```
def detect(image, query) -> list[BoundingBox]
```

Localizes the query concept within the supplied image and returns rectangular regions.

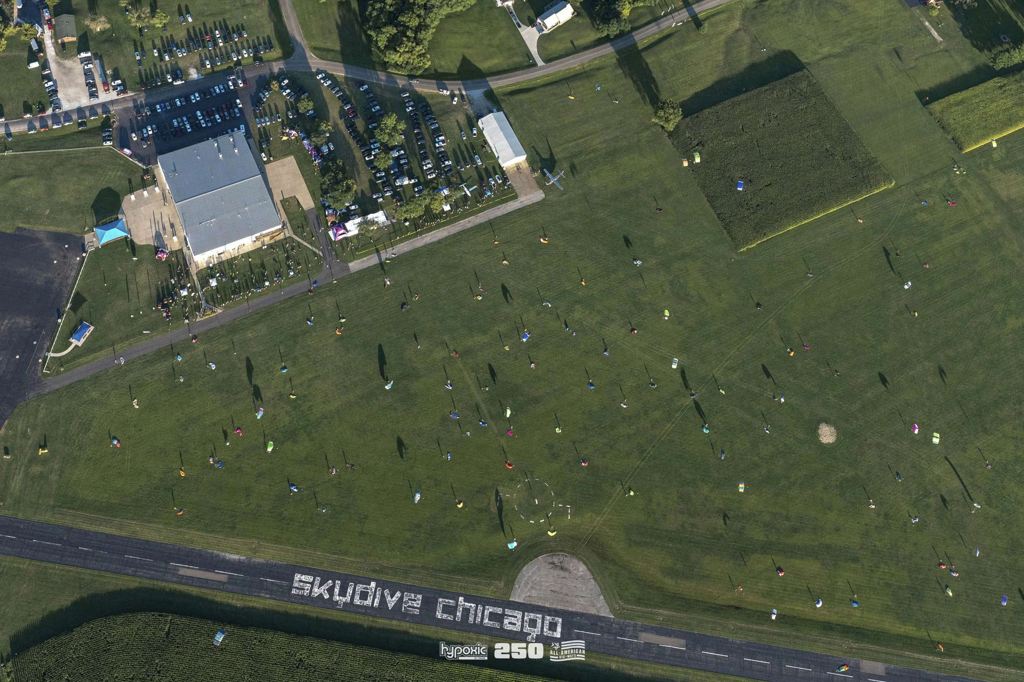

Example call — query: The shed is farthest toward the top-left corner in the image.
[53,13,77,43]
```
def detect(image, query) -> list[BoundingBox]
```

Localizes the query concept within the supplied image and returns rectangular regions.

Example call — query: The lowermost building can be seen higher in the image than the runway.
[67,319,99,350]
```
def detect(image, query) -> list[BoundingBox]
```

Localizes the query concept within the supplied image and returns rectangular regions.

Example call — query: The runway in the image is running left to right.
[0,515,1002,682]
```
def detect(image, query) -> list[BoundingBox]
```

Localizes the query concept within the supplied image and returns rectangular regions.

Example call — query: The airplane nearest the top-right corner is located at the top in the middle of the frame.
[542,166,567,189]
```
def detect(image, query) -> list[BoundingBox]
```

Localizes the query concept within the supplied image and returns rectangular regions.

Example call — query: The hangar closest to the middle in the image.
[475,113,527,170]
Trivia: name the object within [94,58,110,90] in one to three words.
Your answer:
vehicle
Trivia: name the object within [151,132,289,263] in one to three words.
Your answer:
building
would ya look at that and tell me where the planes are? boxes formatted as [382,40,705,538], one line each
[459,180,478,198]
[542,166,567,189]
